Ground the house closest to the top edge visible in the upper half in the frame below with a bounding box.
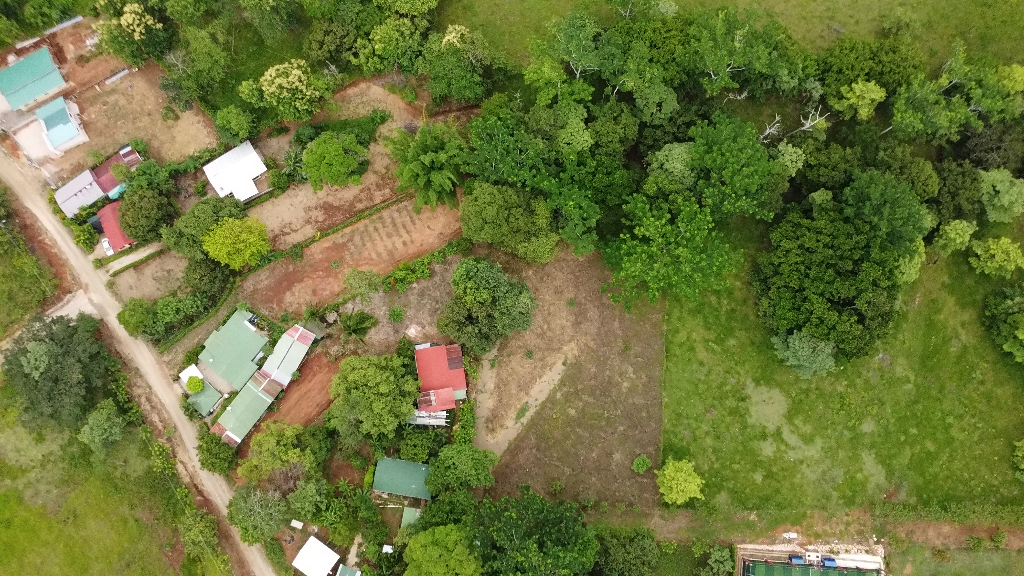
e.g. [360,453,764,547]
[0,47,74,112]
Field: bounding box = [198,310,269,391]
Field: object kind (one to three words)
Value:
house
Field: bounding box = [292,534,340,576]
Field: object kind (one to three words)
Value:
house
